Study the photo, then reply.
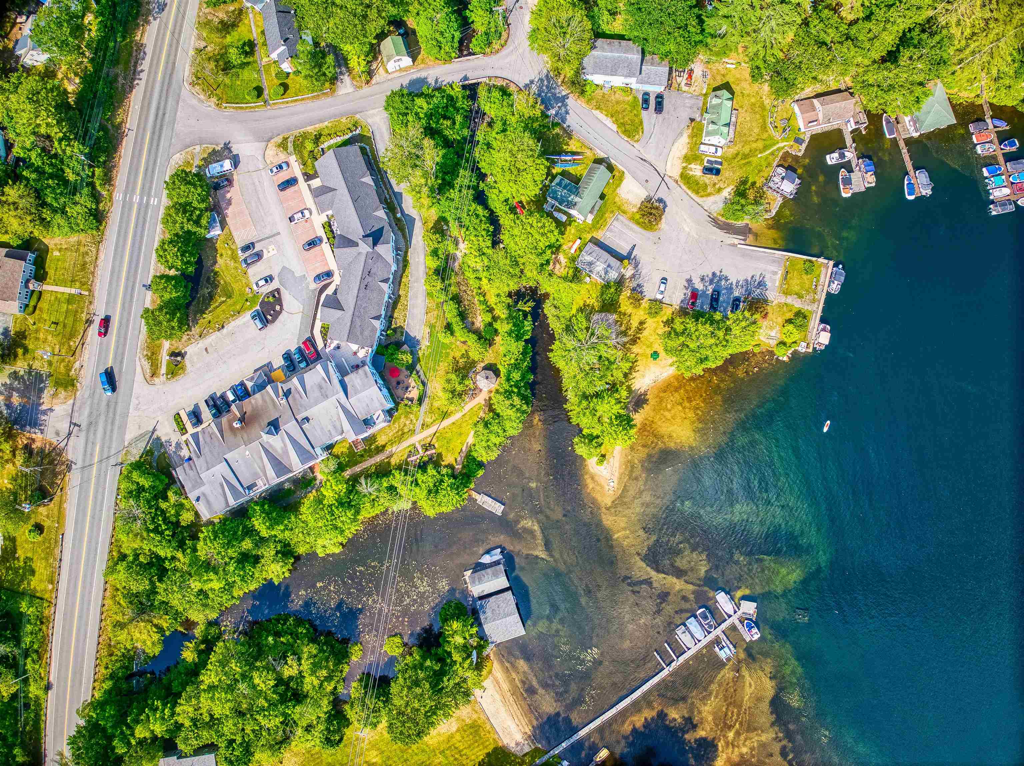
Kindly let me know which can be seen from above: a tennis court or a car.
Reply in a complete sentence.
I can see a car in this picture.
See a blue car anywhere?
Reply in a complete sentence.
Yes, a blue car can be made out from above.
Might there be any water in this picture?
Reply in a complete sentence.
Yes, there's water in this view.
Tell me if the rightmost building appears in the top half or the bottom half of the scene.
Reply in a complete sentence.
The rightmost building sits in the top half of the picture.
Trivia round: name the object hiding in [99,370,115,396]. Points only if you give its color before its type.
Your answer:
blue vehicle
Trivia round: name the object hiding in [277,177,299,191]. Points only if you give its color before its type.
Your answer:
blue car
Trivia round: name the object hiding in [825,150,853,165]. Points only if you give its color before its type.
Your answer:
white boat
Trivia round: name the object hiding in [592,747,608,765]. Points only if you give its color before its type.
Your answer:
yellow boat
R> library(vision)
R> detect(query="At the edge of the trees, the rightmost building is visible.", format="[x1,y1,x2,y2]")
[906,81,956,134]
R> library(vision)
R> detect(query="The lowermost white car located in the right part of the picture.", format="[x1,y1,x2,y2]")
[656,278,668,299]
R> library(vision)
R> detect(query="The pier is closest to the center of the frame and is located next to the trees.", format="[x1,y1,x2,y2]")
[469,489,506,516]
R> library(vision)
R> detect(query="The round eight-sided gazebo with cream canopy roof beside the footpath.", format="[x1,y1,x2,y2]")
[476,370,497,390]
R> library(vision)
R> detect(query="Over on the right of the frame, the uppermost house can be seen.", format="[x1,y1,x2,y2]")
[582,38,668,92]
